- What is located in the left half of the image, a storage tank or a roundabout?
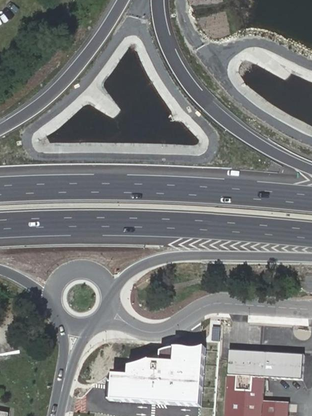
roundabout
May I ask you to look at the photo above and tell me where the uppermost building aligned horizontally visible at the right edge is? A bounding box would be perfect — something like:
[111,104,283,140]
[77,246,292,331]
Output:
[226,350,304,380]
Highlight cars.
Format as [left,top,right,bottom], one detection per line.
[3,8,13,20]
[58,325,64,336]
[0,12,8,23]
[56,370,63,381]
[28,222,40,228]
[292,381,300,390]
[50,404,57,416]
[280,380,289,390]
[7,2,18,14]
[258,192,270,198]
[130,194,142,198]
[220,198,231,203]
